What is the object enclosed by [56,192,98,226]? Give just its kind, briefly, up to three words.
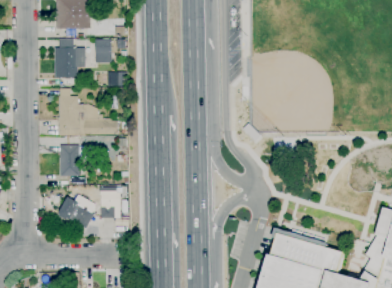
house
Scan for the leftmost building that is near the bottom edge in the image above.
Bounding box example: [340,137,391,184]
[254,228,369,288]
